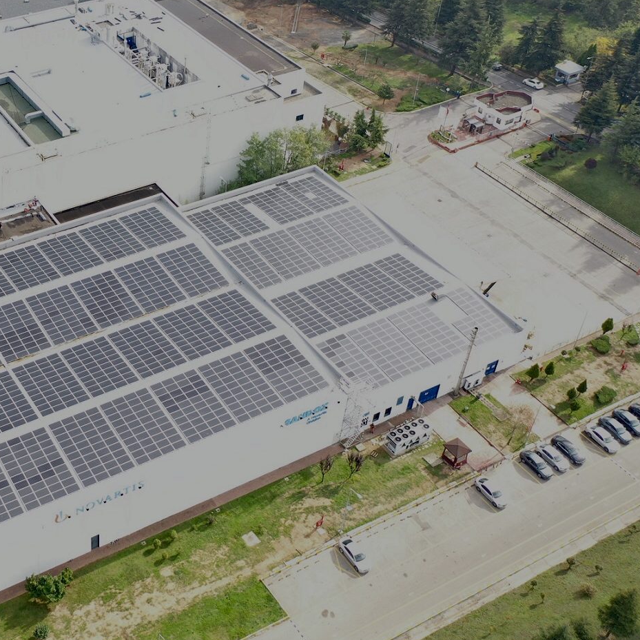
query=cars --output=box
[534,444,570,474]
[473,478,509,510]
[627,400,640,417]
[337,540,373,576]
[598,416,634,444]
[522,78,544,90]
[613,407,640,436]
[549,436,586,466]
[583,425,619,454]
[518,450,554,481]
